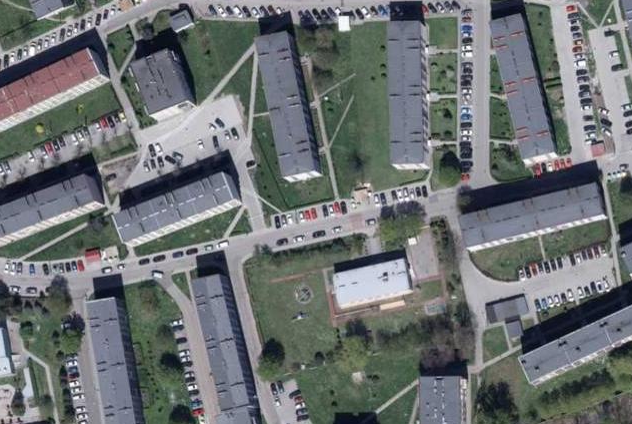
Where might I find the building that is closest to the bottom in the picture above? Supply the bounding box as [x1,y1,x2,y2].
[419,376,465,424]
